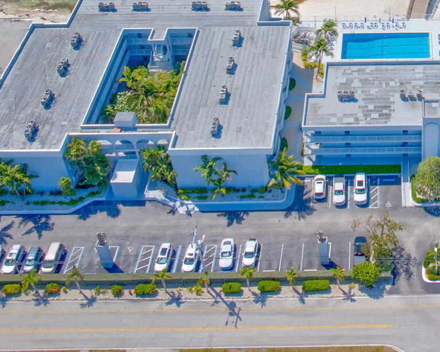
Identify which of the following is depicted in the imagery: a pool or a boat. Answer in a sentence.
Of the two, only a pool appears.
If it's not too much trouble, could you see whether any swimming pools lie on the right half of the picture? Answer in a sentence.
Yes, I can see a swimming pool on the right half of the picture.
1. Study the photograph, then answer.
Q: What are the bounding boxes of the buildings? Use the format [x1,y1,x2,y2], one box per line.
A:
[301,61,440,166]
[0,0,305,198]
